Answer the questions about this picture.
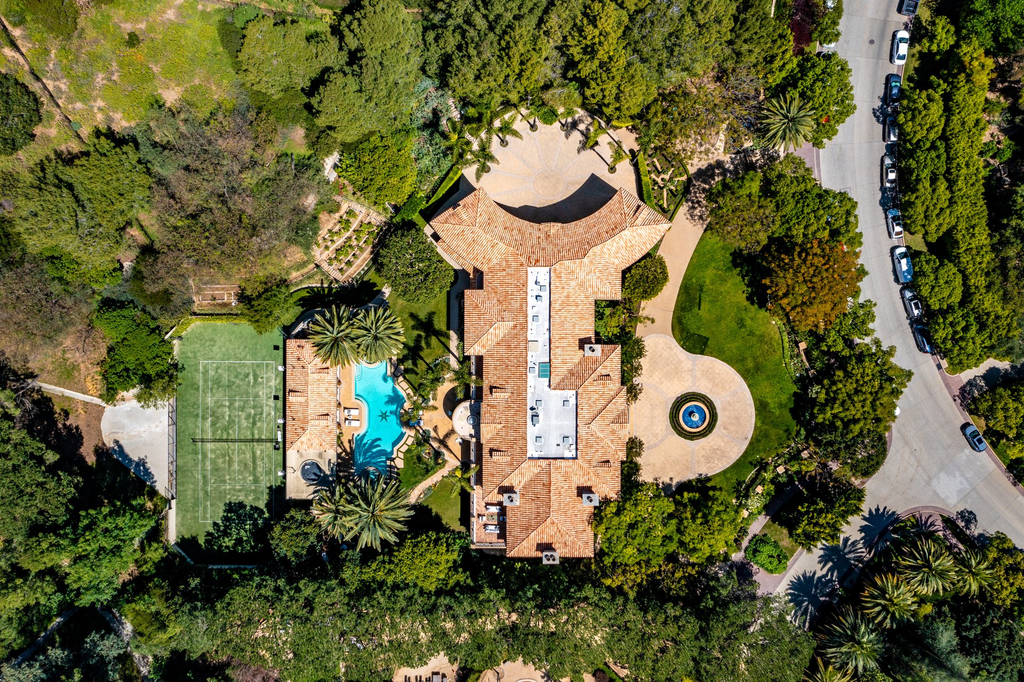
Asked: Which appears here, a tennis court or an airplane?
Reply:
tennis court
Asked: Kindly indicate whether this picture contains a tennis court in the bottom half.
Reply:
Yes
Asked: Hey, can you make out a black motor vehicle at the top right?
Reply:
Yes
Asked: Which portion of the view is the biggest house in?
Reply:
center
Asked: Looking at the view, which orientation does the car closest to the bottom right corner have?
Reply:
diagonally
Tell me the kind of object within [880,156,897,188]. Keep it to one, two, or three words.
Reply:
car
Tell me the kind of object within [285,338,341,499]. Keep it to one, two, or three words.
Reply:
building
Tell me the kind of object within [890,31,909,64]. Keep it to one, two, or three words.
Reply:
car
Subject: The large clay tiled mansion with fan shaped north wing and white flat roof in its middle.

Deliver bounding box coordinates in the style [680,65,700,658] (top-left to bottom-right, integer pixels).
[429,186,672,564]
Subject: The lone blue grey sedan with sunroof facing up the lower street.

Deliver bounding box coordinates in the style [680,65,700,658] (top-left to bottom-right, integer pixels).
[960,421,987,453]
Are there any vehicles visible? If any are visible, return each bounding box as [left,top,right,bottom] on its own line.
[896,0,914,18]
[911,321,933,354]
[885,209,903,240]
[885,402,900,424]
[884,74,902,107]
[880,156,897,188]
[882,113,900,146]
[819,38,833,51]
[901,287,923,319]
[960,421,987,453]
[890,31,909,64]
[892,246,913,284]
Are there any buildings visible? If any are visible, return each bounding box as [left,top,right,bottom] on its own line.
[429,186,672,564]
[285,338,341,499]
